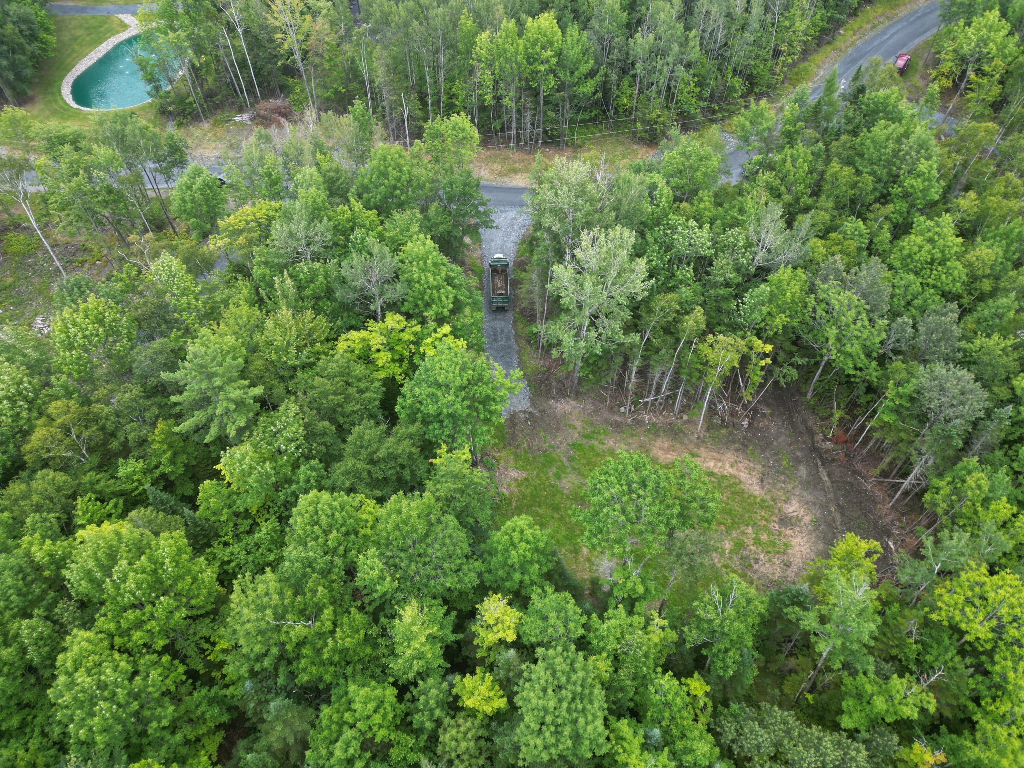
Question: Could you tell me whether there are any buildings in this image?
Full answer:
No, the photo shows no building.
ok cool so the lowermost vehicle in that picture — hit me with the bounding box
[490,254,509,310]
